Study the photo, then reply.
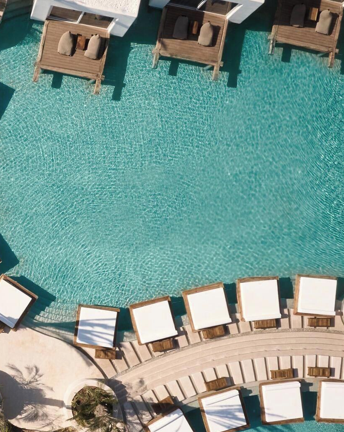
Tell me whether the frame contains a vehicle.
No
